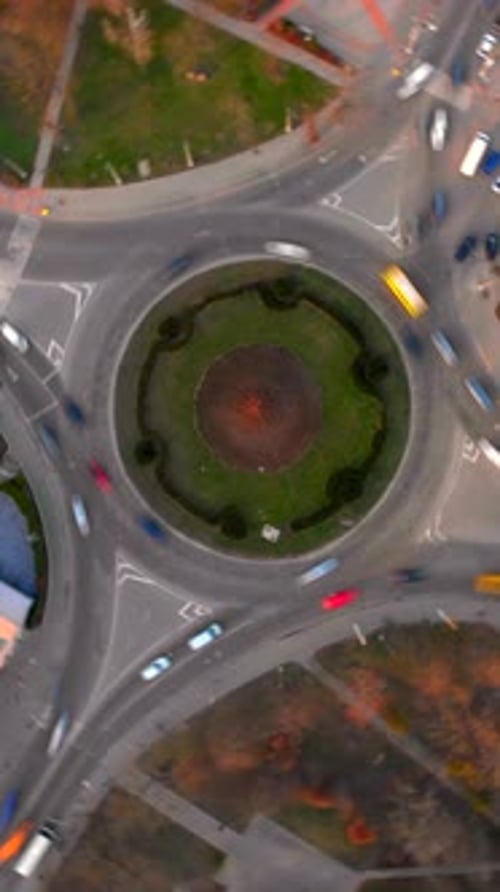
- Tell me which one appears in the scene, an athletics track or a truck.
truck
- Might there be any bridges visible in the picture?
No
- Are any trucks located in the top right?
Yes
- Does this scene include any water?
No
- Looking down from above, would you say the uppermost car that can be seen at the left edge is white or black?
white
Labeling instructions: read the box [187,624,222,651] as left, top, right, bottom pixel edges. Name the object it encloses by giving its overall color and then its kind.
white car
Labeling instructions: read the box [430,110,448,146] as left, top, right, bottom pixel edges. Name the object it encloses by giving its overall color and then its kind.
white car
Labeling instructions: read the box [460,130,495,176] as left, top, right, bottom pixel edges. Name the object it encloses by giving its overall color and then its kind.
white truck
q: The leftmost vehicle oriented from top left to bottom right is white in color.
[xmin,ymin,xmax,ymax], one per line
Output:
[0,321,28,352]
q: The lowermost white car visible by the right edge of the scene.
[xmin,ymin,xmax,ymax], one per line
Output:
[477,435,500,469]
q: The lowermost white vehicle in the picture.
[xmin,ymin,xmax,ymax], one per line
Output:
[11,826,53,883]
